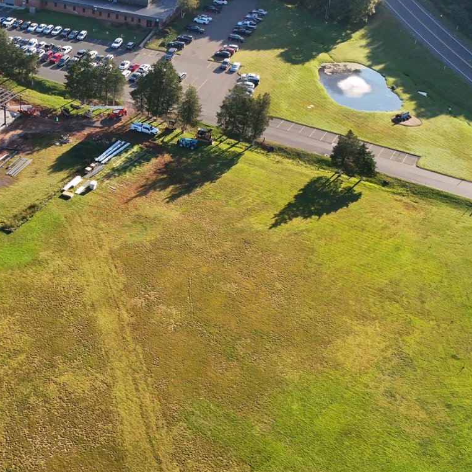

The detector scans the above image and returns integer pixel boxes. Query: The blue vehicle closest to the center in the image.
[169,135,201,150]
